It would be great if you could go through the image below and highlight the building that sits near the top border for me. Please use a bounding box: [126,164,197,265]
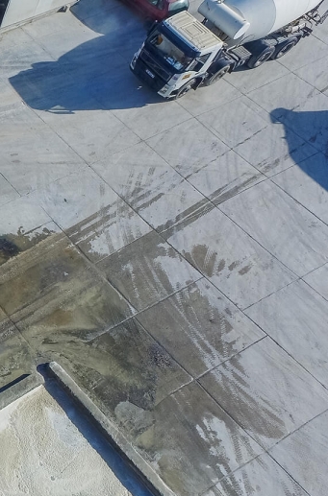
[0,0,61,29]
